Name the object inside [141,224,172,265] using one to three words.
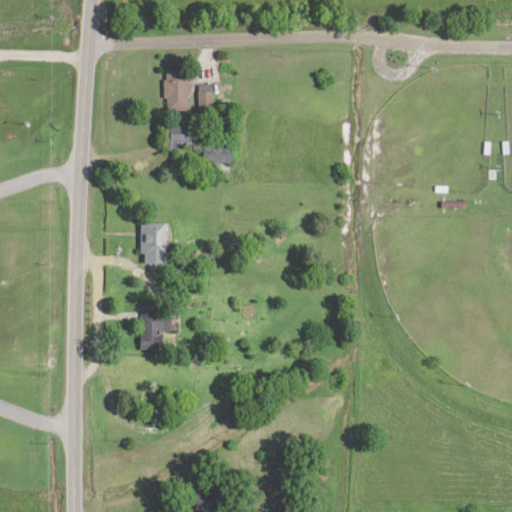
house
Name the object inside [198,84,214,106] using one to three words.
building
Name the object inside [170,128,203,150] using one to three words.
house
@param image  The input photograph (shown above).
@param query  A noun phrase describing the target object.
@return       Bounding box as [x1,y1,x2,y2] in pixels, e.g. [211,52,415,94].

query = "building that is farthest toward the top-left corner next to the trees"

[164,73,192,111]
